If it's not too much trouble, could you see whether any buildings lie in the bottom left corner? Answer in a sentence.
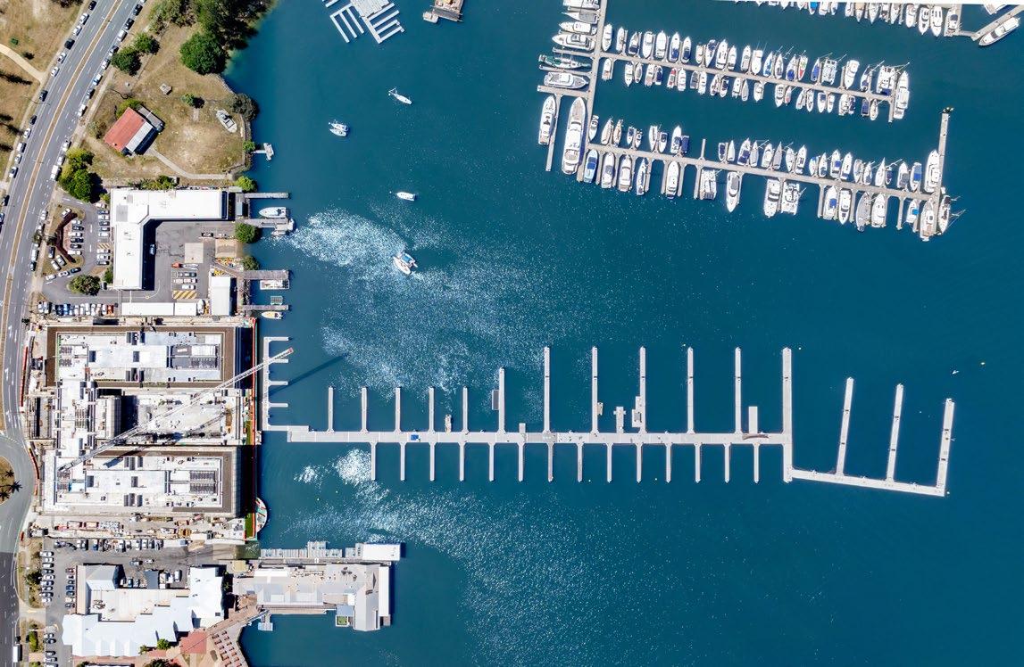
Yes, a building appears in the bottom left corner.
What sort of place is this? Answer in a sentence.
This looks like a port.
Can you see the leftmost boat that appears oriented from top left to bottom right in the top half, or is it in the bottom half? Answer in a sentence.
The leftmost boat that appears oriented from top left to bottom right sits in the top half of the picture.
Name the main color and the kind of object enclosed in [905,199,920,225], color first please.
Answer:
white boat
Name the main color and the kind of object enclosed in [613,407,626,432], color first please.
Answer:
white ship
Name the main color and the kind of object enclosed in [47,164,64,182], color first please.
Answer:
white vehicle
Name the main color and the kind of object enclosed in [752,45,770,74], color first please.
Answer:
white boat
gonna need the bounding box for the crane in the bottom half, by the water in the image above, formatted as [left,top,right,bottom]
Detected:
[56,347,293,473]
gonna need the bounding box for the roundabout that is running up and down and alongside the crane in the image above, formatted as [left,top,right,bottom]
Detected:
[0,432,34,553]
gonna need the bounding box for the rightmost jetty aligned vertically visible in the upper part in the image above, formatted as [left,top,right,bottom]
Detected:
[537,0,606,182]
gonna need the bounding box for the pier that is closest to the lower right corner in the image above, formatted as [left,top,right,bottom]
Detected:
[790,378,954,496]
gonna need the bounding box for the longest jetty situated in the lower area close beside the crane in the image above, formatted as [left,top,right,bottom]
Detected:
[268,347,913,485]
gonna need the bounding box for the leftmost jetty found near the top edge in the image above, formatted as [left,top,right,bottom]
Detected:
[325,0,403,44]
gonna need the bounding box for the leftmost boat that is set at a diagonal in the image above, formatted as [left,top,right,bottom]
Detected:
[219,109,239,133]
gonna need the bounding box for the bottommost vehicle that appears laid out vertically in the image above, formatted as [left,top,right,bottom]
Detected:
[12,636,24,665]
